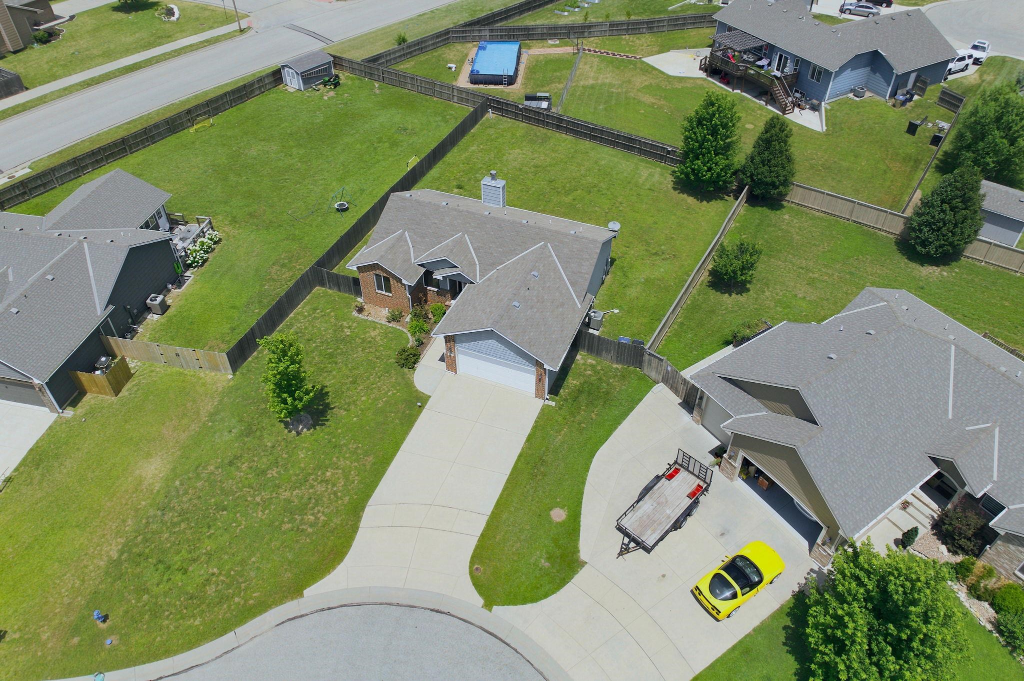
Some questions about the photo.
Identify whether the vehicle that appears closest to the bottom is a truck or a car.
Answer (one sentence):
I'd say the vehicle that appears closest to the bottom is a car.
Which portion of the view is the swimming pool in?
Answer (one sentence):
The swimming pool sits in the top section of the image.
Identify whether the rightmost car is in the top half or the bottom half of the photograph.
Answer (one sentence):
It is in the top half that the rightmost car appears.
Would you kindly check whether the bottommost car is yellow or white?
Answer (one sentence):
The color of the bottommost car is yellow.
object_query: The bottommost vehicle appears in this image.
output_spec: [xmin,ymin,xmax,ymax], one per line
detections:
[696,541,788,617]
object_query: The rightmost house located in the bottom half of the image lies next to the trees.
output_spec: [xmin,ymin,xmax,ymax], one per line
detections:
[688,287,1024,598]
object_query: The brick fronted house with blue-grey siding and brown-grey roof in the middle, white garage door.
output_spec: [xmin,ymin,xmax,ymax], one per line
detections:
[345,171,618,404]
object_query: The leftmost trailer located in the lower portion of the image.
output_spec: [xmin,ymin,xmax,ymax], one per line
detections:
[616,449,715,570]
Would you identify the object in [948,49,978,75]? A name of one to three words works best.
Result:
car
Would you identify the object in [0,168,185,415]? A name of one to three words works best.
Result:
house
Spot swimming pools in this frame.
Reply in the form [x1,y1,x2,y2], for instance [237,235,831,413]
[468,39,522,85]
